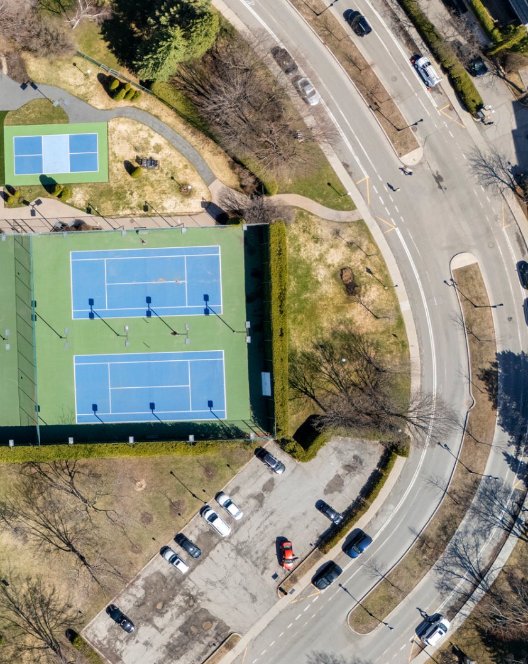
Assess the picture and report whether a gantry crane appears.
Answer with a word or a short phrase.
No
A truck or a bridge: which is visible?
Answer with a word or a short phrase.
truck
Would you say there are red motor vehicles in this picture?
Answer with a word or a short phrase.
Yes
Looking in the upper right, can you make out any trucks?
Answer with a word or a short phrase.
Yes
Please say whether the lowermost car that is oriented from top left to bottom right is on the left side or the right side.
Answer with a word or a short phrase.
left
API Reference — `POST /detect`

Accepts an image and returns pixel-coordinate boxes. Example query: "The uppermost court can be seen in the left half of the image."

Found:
[4,121,108,185]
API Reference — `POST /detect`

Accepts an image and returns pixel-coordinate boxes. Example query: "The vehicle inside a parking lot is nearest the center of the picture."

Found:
[255,447,284,474]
